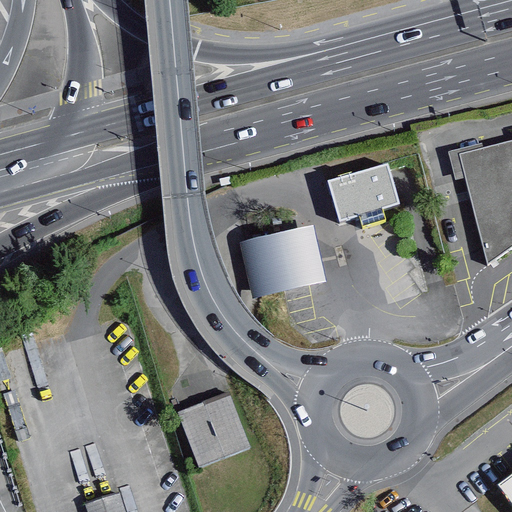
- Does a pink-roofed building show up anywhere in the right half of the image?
No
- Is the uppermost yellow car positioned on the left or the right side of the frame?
left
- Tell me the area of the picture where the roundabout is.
bottom right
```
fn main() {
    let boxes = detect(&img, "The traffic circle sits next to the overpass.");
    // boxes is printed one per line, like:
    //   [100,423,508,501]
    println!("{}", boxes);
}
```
[288,340,464,512]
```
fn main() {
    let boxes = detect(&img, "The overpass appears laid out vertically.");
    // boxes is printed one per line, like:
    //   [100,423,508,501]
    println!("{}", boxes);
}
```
[144,0,302,399]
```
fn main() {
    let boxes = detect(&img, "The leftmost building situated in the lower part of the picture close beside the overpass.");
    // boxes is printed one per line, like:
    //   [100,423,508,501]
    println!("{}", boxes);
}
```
[182,390,251,468]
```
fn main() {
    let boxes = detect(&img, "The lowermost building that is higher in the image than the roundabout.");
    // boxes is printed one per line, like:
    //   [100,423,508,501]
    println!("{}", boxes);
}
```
[240,225,326,298]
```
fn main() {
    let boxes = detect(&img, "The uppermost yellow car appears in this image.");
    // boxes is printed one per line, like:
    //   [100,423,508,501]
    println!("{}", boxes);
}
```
[106,322,128,342]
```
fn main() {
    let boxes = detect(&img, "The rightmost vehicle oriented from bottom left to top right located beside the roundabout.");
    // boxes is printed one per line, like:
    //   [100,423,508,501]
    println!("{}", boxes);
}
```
[466,328,486,345]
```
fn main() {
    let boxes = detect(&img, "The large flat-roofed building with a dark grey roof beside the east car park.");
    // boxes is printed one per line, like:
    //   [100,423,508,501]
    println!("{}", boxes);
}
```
[448,140,512,267]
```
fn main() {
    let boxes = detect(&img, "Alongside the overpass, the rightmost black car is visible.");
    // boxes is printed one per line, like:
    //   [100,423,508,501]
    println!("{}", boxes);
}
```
[301,354,327,366]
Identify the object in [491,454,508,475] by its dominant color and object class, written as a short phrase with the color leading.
black car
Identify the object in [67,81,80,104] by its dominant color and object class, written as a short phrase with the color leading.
white vehicle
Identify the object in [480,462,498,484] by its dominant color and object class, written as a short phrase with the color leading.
blue car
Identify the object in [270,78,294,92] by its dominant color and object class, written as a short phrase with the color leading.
white vehicle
